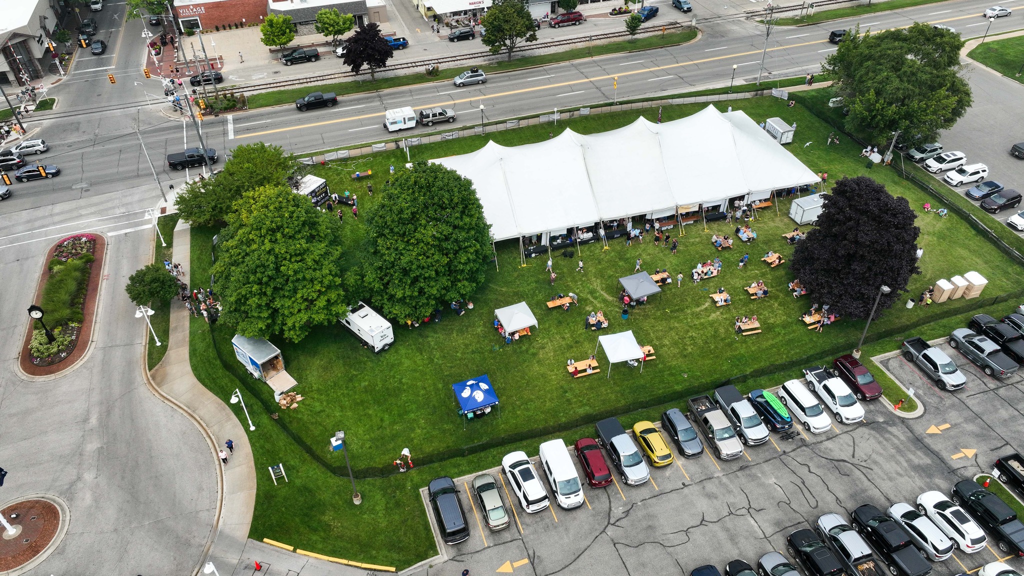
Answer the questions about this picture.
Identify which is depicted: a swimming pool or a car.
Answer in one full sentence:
It is a car that can be seen here.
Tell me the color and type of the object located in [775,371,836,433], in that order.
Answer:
white car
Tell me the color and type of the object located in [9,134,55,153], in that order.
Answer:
gray car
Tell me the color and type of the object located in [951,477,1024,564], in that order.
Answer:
black truck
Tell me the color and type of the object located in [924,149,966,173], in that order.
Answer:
white car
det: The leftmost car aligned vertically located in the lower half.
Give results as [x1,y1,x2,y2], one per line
[426,470,472,548]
